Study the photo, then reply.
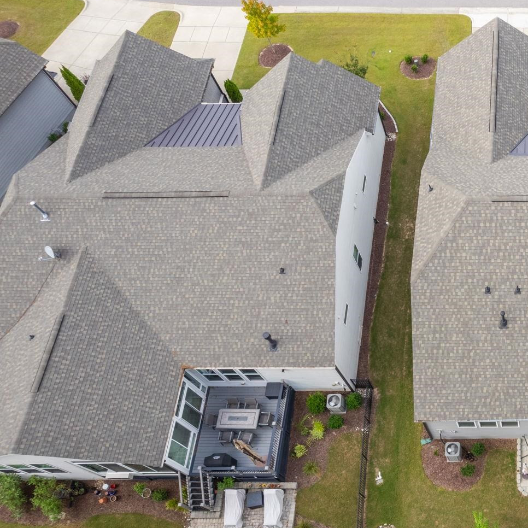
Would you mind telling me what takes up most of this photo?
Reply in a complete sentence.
For the most part, this view shows buildings.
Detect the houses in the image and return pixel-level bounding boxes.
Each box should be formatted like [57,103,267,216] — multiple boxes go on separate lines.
[409,17,528,446]
[0,30,389,489]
